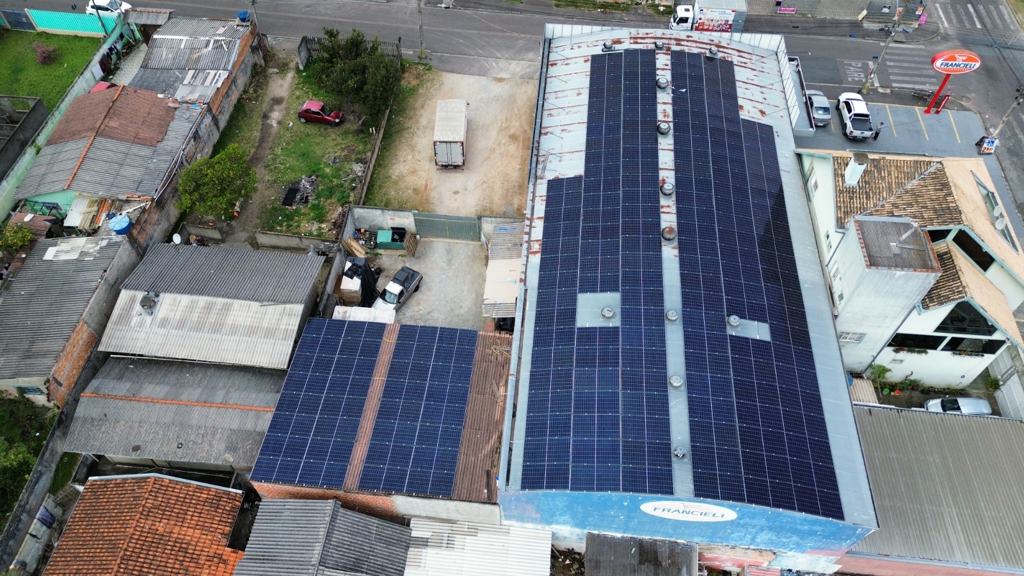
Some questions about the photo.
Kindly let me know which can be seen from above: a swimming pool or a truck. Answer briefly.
truck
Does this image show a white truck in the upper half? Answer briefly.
Yes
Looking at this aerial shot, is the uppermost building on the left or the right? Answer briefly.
left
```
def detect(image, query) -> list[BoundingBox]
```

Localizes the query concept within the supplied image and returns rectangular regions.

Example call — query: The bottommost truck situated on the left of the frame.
[372,263,427,319]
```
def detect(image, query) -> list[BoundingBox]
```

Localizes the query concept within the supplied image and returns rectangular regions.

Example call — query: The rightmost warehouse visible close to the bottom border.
[827,406,1024,576]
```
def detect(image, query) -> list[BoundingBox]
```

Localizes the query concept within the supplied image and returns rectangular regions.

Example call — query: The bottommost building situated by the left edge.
[44,470,255,576]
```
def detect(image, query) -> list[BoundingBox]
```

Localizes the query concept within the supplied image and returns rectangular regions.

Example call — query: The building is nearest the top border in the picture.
[128,17,249,123]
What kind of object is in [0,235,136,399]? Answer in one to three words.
house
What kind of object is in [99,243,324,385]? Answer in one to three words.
house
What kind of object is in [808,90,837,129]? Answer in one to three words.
car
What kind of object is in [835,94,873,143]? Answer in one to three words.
truck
